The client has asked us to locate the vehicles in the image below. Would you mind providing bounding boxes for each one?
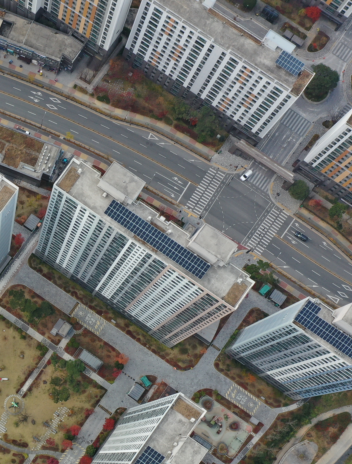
[294,231,308,242]
[16,125,32,135]
[239,169,252,182]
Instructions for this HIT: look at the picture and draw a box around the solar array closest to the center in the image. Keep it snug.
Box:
[104,199,209,279]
